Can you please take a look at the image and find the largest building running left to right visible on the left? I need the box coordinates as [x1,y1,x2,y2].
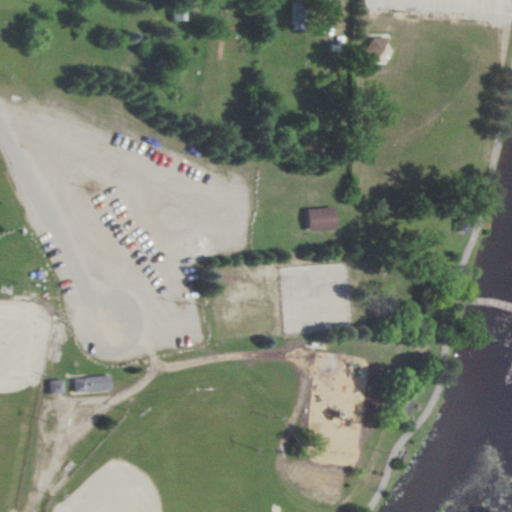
[76,376,112,392]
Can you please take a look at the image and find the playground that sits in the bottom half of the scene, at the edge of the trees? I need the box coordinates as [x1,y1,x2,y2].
[288,348,368,467]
